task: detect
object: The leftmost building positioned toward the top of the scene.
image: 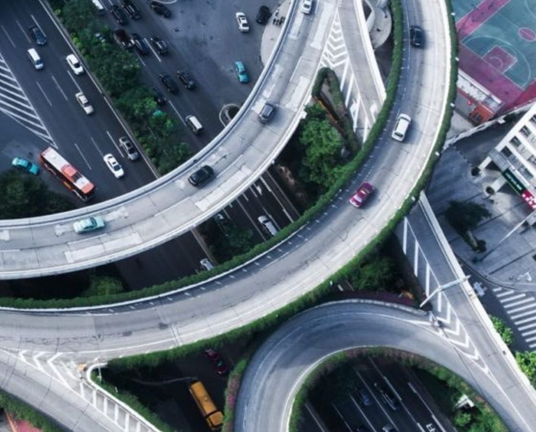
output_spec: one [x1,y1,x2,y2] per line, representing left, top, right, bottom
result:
[454,69,506,128]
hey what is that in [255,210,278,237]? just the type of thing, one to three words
car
